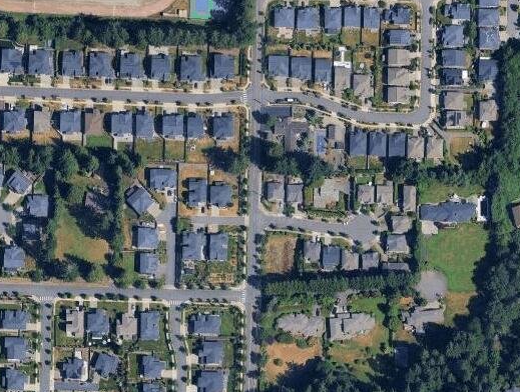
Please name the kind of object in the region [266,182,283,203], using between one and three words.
house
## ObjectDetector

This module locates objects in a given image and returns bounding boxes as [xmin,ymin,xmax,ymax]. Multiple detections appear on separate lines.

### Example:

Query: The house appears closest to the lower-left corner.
[4,369,25,392]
